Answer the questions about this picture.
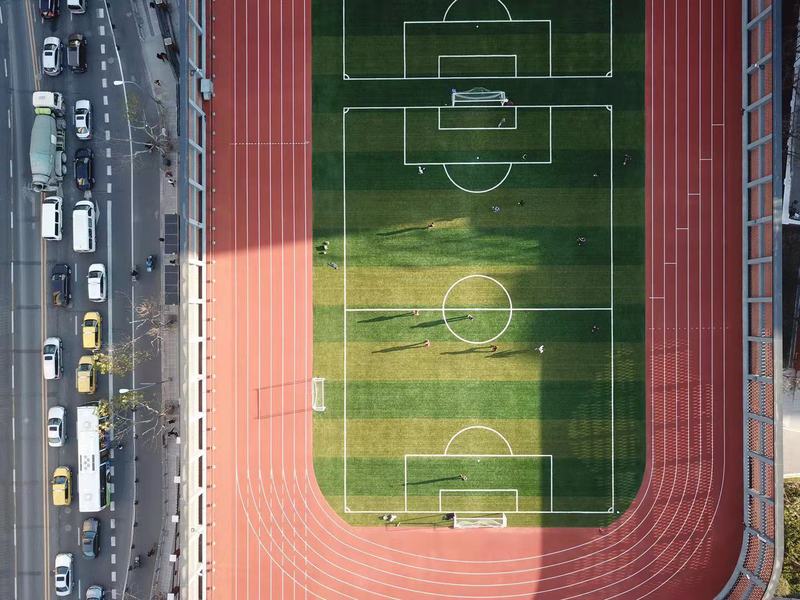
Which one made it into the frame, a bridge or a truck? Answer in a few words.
truck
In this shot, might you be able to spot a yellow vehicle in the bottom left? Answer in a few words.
Yes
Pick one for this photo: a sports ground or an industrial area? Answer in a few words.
sports ground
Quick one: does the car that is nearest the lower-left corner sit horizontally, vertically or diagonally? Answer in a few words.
vertically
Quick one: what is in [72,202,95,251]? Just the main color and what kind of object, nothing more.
white vehicle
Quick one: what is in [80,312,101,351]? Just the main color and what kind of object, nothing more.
yellow car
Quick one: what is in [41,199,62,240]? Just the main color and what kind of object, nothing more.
white vehicle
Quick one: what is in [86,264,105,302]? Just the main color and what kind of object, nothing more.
white car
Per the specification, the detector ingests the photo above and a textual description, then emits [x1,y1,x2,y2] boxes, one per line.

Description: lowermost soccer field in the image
[312,91,647,527]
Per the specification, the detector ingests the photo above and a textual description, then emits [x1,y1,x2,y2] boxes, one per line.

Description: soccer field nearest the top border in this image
[312,0,646,91]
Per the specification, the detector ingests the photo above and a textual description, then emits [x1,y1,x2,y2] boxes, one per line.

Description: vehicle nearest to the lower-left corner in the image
[53,554,73,596]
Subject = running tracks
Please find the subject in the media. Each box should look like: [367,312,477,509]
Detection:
[206,0,742,600]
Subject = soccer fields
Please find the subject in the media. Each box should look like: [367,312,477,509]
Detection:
[312,0,646,91]
[312,91,647,527]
